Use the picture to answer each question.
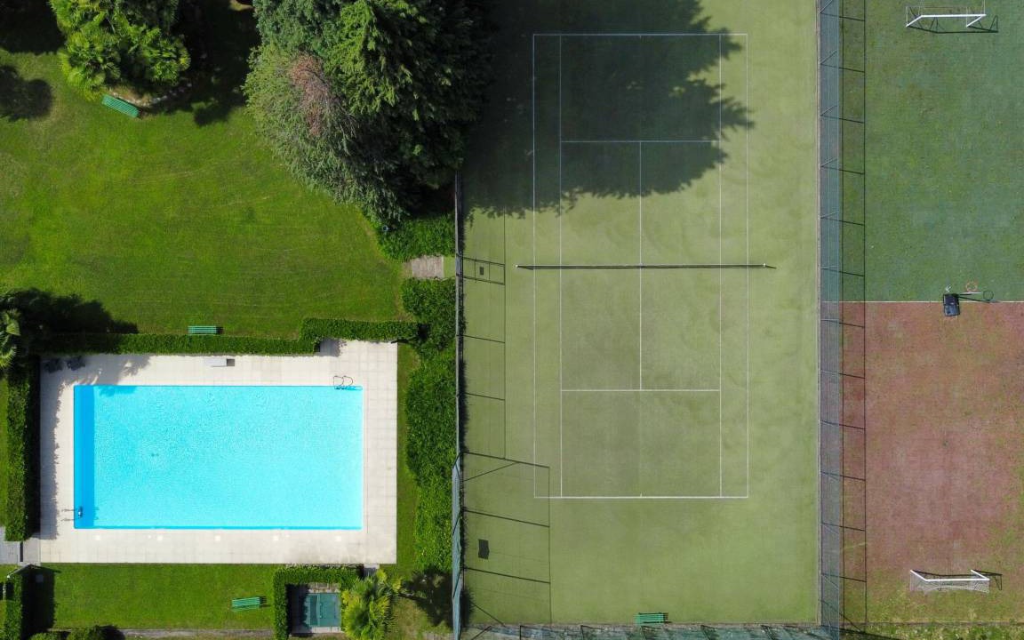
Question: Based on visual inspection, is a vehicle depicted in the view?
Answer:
No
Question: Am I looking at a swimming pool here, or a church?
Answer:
swimming pool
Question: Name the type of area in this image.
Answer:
sports ground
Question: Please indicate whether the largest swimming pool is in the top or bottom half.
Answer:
bottom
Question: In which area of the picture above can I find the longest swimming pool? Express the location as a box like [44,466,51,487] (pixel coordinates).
[57,372,369,541]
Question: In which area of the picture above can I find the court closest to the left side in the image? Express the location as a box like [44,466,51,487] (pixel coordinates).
[443,0,816,623]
